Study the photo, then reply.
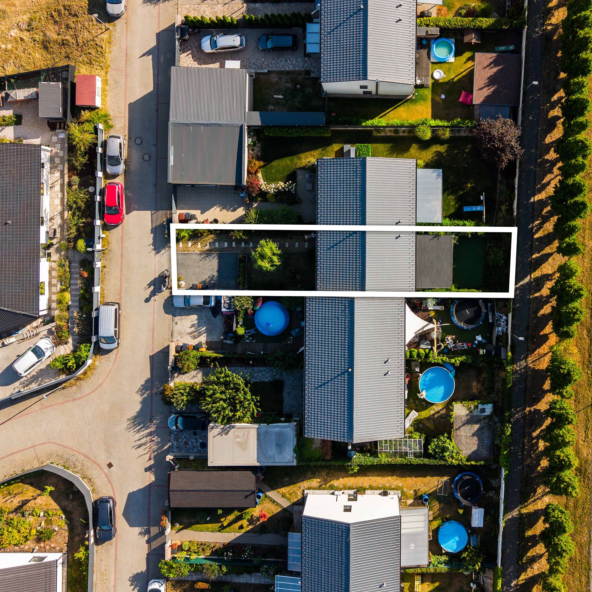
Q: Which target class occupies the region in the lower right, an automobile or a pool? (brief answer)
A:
pool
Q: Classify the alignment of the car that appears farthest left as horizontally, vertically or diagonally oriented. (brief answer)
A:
diagonally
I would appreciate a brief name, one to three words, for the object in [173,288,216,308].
car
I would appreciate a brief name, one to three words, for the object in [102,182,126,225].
car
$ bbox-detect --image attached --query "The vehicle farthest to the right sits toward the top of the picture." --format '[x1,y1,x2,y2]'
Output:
[259,32,299,53]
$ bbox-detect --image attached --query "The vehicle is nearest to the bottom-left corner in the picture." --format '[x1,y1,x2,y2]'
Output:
[95,495,119,546]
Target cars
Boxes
[102,182,126,225]
[95,495,119,546]
[104,0,128,18]
[173,288,216,308]
[13,337,57,377]
[104,134,127,176]
[259,32,299,53]
[202,32,247,55]
[146,577,167,592]
[168,412,209,433]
